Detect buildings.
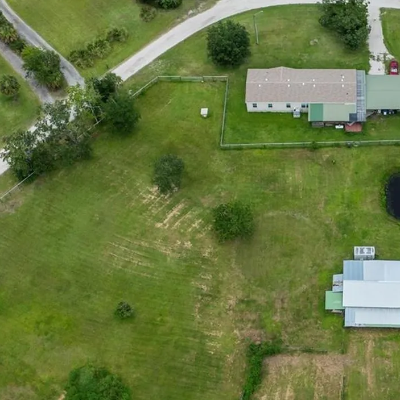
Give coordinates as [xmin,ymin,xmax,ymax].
[245,64,367,131]
[326,260,400,332]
